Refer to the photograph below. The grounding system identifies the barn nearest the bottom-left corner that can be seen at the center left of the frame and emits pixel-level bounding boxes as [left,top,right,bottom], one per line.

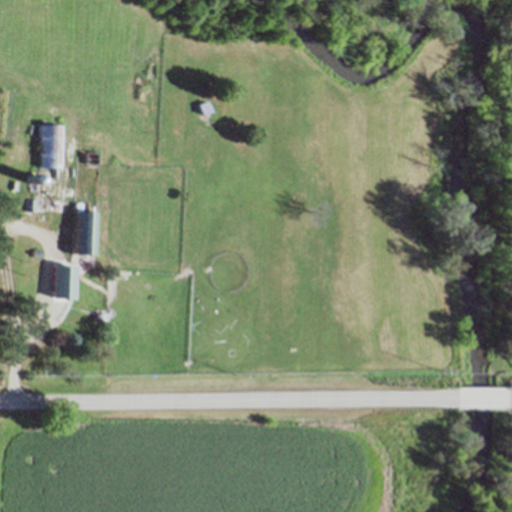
[54,262,78,300]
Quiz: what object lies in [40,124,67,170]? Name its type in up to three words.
barn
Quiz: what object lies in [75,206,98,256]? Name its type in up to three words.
barn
